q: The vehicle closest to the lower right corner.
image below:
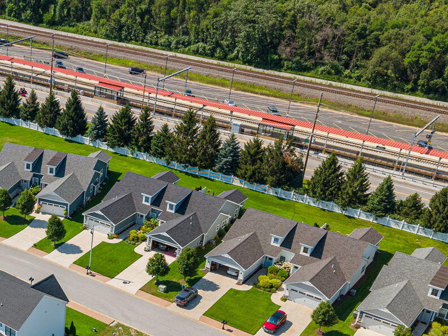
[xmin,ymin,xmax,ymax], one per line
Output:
[265,309,287,333]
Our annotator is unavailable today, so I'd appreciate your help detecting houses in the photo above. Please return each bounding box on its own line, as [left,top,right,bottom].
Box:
[81,167,241,257]
[0,272,77,336]
[354,245,448,336]
[0,140,111,219]
[204,202,379,307]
